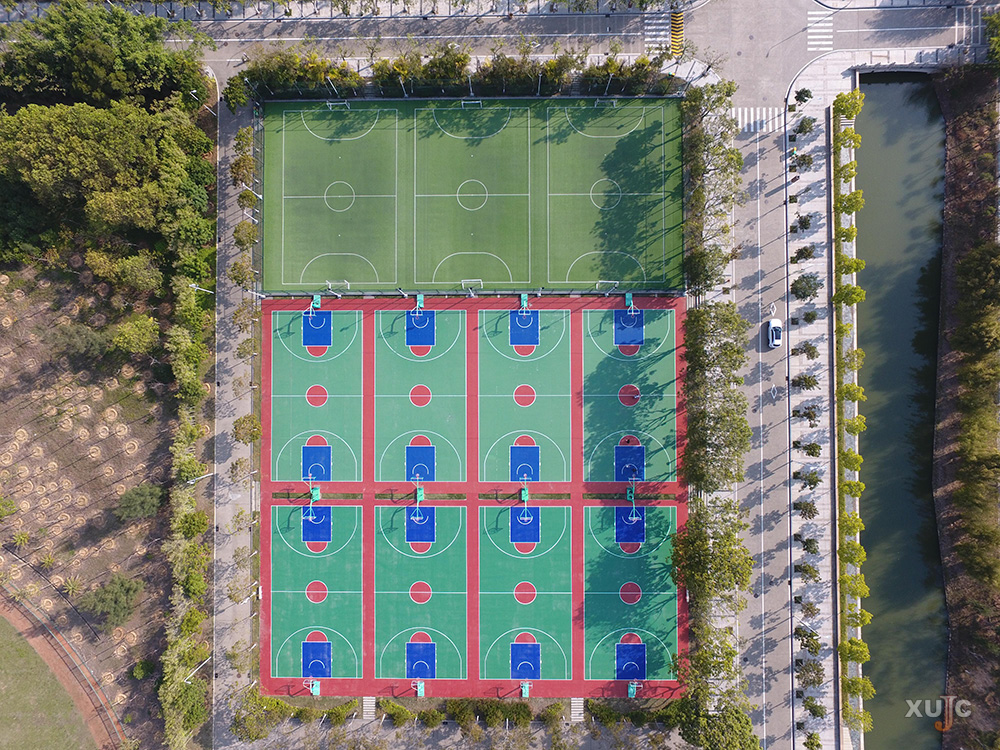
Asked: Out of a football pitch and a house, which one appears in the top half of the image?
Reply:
football pitch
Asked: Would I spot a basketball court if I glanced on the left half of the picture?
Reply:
Yes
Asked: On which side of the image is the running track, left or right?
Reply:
left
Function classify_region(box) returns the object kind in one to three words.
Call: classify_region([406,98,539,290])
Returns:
soccer field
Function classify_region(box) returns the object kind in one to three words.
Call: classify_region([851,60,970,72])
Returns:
bridge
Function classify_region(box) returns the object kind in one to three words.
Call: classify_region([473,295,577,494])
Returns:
basketball court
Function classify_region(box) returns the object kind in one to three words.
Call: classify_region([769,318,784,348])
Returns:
car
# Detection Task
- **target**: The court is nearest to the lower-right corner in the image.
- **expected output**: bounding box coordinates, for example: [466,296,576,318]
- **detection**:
[577,494,689,694]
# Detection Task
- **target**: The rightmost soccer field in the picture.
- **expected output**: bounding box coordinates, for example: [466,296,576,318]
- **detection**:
[539,97,685,290]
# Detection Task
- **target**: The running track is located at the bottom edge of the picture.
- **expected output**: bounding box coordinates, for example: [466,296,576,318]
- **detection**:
[0,589,121,750]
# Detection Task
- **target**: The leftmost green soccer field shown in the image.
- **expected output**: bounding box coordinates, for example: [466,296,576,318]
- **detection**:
[265,99,406,291]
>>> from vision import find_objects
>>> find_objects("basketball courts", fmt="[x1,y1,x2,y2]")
[576,295,688,494]
[260,296,369,494]
[369,296,473,494]
[260,494,369,693]
[577,494,689,694]
[473,295,577,494]
[368,494,474,693]
[473,494,578,694]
